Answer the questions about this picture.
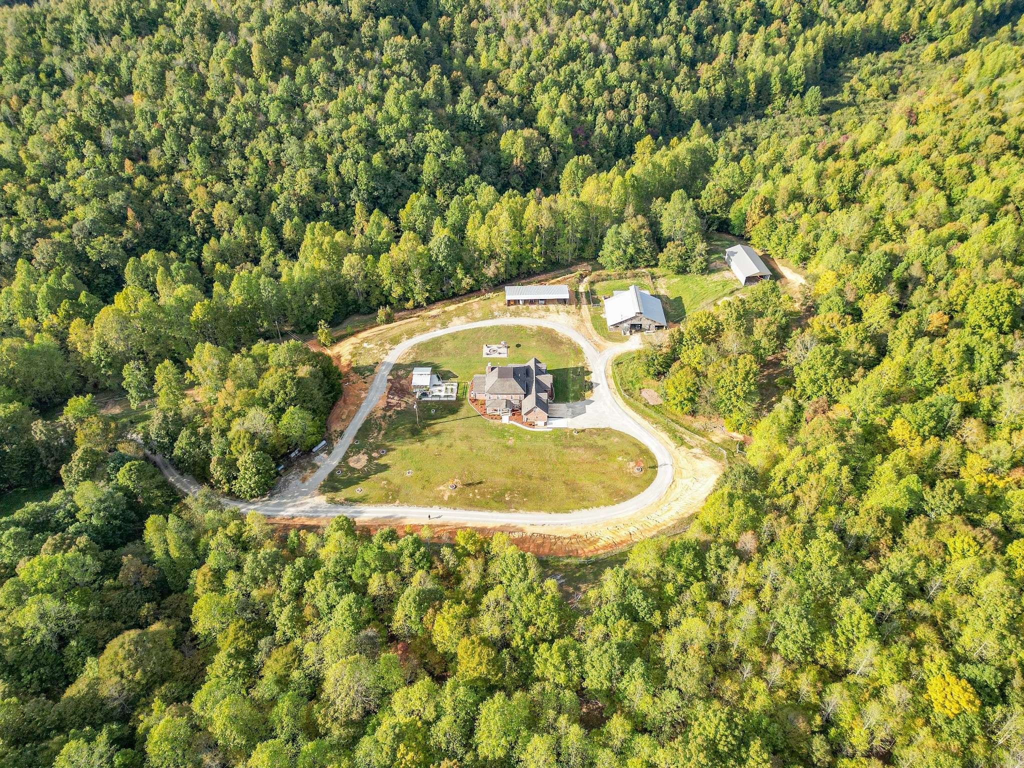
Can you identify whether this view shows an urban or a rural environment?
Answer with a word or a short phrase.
rural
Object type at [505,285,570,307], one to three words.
shed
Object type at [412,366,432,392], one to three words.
building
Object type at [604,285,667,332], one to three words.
barn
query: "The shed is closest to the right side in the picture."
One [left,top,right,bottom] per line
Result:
[727,245,774,286]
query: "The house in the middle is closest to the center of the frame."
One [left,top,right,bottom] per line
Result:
[472,357,553,426]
